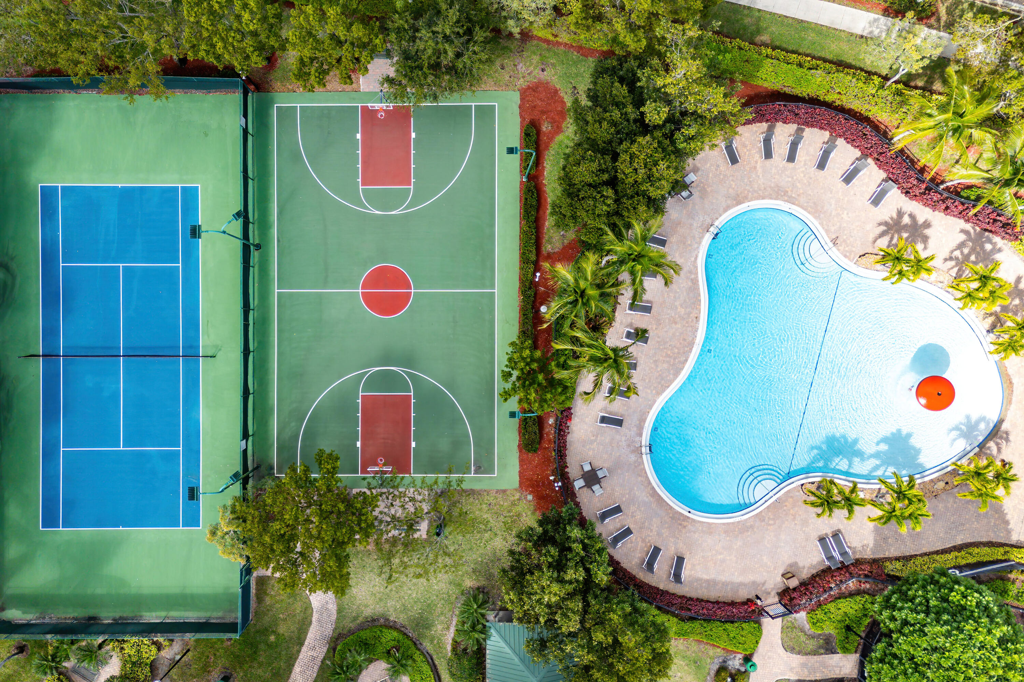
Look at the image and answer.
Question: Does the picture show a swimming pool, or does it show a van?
swimming pool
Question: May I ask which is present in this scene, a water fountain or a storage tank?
water fountain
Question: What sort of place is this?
sports ground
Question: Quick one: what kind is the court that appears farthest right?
basketball court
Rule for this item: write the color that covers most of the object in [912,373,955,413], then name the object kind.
orange fountain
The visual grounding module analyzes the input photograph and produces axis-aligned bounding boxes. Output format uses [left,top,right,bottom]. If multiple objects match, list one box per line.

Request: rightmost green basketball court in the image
[253,90,520,489]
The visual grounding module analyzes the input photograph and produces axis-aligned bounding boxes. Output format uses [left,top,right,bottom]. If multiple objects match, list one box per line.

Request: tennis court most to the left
[0,91,253,620]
